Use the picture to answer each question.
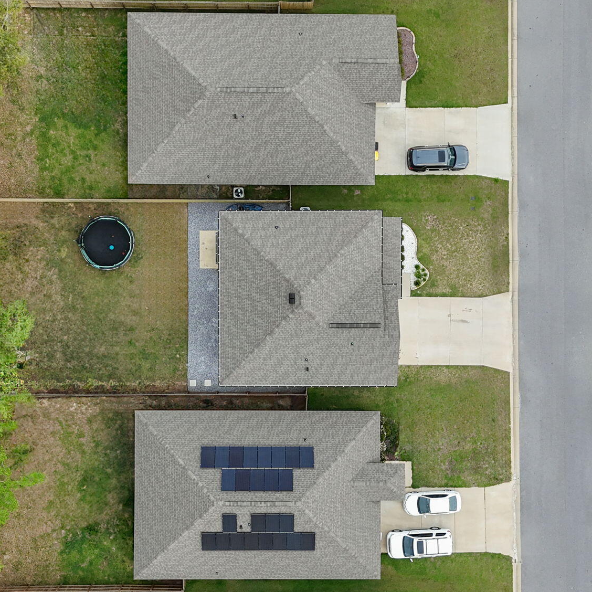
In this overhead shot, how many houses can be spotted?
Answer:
3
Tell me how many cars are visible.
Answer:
three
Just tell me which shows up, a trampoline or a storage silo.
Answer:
trampoline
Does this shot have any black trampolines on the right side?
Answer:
No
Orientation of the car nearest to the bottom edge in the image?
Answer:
from left to right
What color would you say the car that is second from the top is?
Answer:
white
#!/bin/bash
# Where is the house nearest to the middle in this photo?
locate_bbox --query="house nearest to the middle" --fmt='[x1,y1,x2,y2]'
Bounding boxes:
[217,209,404,387]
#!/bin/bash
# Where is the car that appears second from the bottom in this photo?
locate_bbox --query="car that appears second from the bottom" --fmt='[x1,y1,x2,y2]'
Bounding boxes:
[401,487,461,519]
